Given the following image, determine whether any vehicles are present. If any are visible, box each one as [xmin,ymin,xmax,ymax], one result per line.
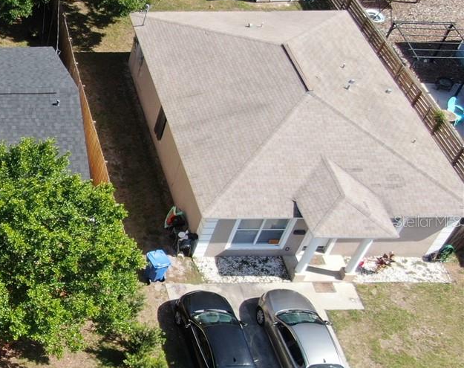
[264,289,350,368]
[177,291,259,368]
